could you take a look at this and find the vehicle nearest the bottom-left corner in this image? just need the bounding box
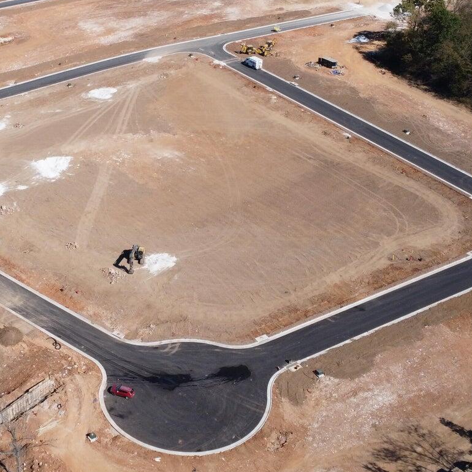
[109,385,134,398]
